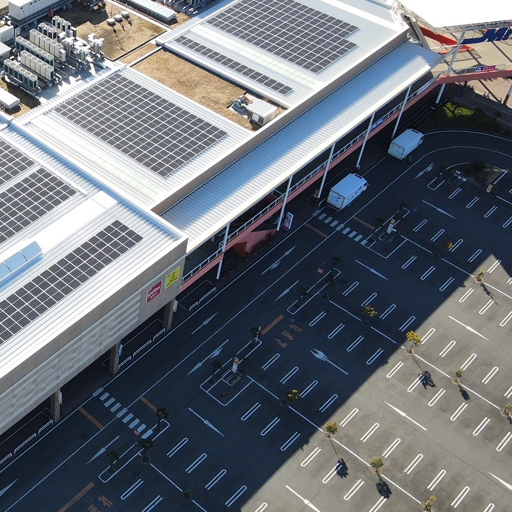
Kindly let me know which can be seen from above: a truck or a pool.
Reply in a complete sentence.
Of the two, only a truck appears.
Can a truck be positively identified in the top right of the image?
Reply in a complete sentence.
Yes, the scene does show a truck in the top right of the image.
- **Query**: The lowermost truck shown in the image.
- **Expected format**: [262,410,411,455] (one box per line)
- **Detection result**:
[330,168,374,207]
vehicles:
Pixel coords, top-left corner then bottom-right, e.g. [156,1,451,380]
[330,168,374,207]
[390,120,430,156]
